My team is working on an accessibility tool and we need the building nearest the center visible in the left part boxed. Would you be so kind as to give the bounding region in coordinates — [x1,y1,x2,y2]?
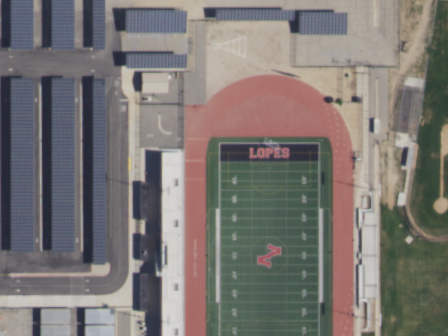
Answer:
[140,182,160,219]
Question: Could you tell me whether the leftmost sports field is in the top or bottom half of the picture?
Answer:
bottom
